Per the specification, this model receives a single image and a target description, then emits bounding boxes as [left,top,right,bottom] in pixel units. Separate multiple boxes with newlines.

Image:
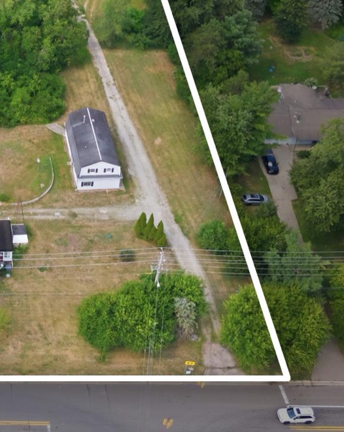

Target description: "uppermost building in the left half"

[64,105,129,190]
